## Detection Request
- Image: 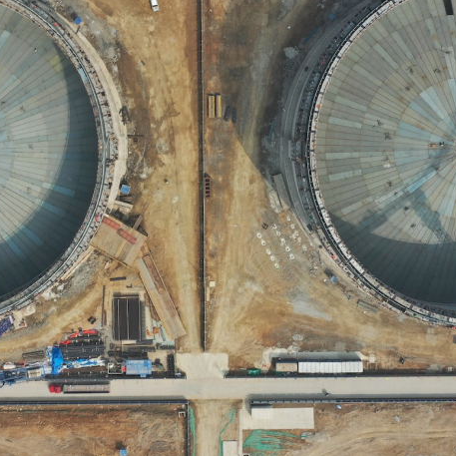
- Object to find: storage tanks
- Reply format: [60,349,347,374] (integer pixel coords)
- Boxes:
[0,0,126,315]
[280,0,456,328]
